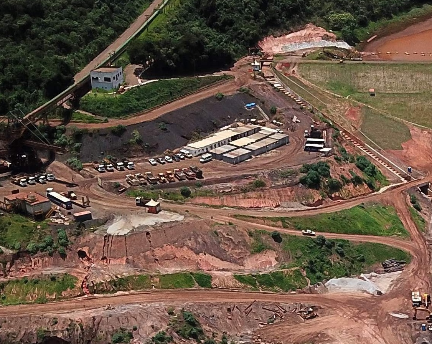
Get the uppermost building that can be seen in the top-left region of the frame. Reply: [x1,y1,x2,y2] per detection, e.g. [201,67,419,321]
[87,67,123,90]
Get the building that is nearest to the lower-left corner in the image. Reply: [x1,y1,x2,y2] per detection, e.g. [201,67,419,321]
[5,192,57,213]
